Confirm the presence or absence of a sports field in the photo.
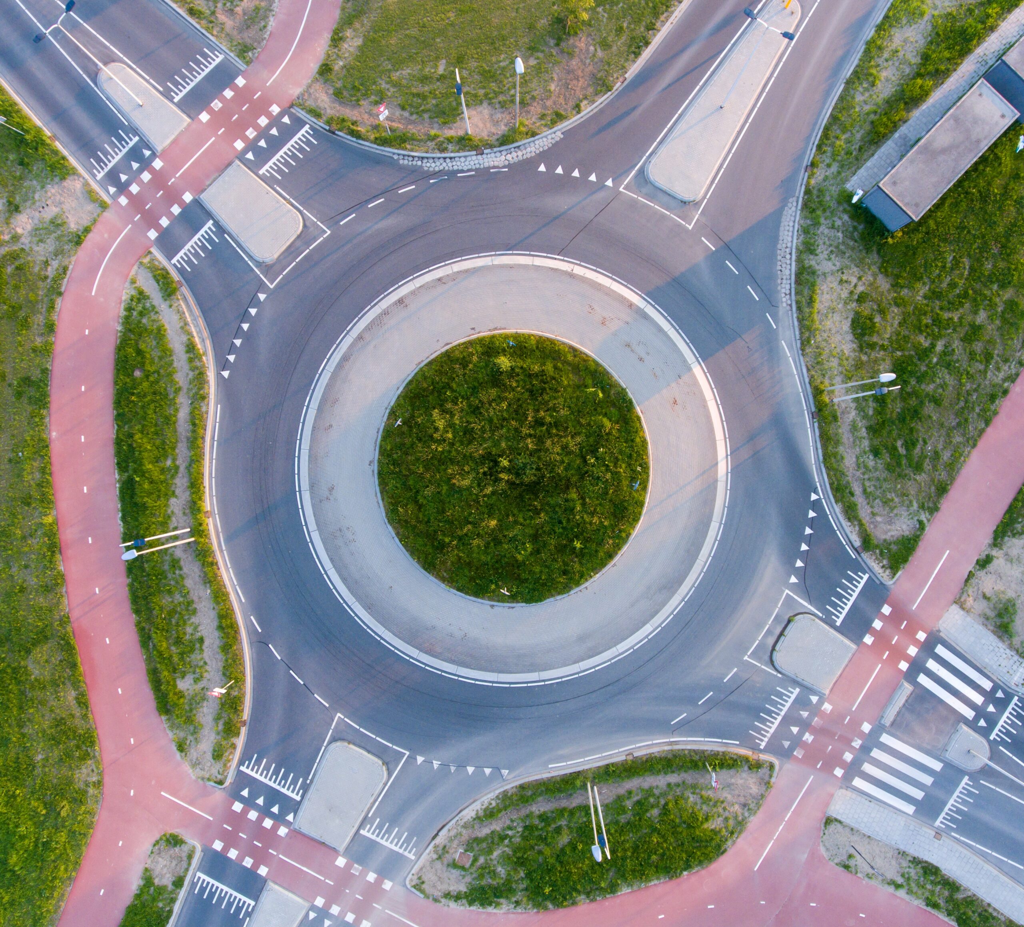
No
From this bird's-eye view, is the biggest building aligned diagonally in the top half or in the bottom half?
top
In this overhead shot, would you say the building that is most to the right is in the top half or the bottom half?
top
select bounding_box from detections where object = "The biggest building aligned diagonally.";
[863,78,1020,232]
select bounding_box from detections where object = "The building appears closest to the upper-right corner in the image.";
[985,35,1024,107]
